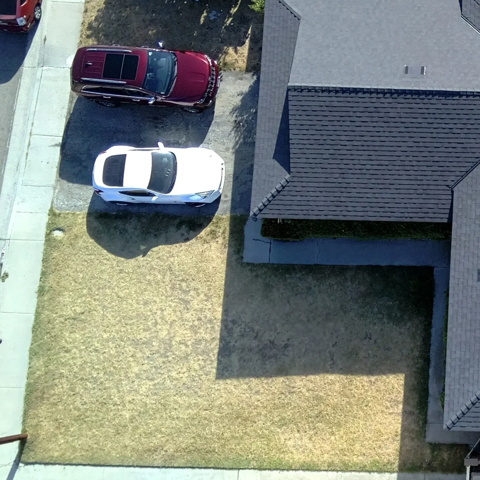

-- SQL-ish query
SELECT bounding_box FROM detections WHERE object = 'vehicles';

[0,0,41,34]
[92,141,227,208]
[68,41,223,114]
